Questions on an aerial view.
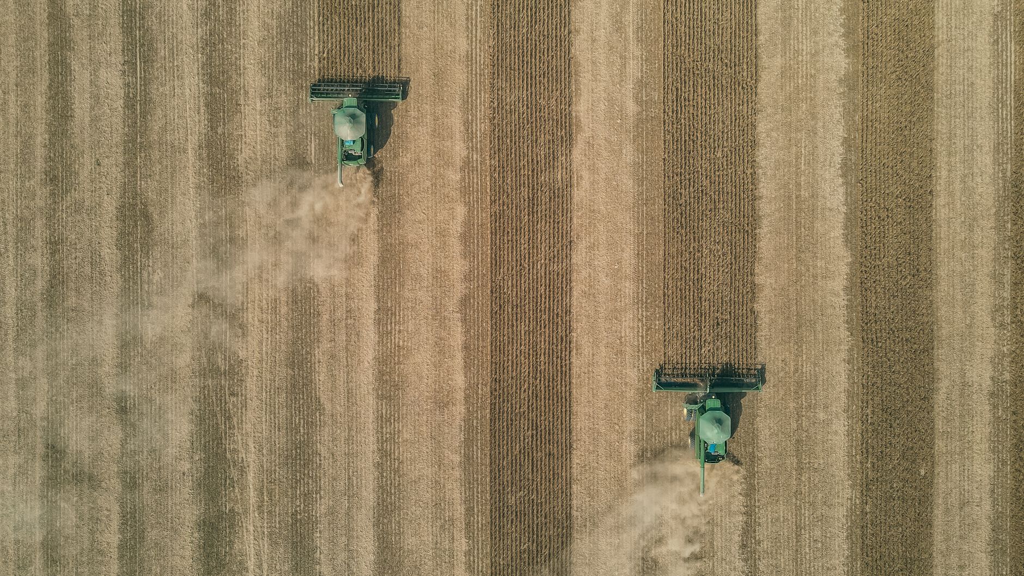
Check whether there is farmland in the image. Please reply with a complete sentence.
Yes, the picture does contain farmland.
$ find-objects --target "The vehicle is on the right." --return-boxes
[651,370,764,498]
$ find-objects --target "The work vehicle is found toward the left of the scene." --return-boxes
[308,83,406,188]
